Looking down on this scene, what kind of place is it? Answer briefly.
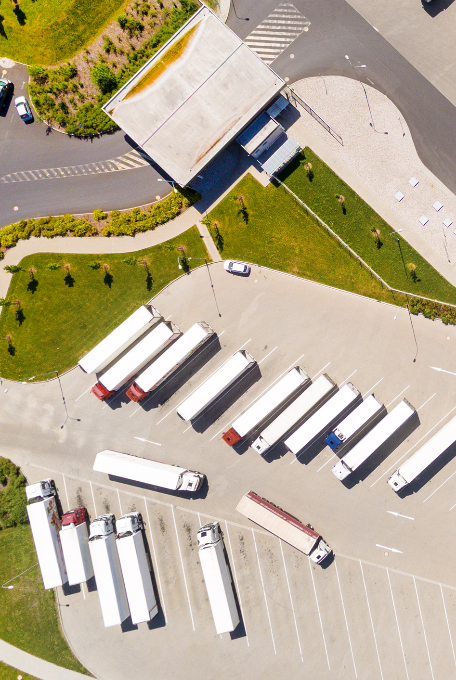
parking lot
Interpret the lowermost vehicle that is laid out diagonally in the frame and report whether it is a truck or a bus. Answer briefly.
truck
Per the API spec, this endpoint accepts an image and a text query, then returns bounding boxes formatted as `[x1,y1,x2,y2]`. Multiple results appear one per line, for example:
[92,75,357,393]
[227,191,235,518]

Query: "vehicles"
[90,321,181,403]
[387,415,456,492]
[221,365,310,447]
[0,80,14,111]
[322,392,384,450]
[249,373,337,456]
[115,512,158,624]
[27,478,69,589]
[17,97,34,122]
[125,321,216,403]
[236,489,336,560]
[331,397,415,480]
[196,522,239,634]
[93,450,205,494]
[223,260,252,275]
[60,502,95,583]
[89,513,129,626]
